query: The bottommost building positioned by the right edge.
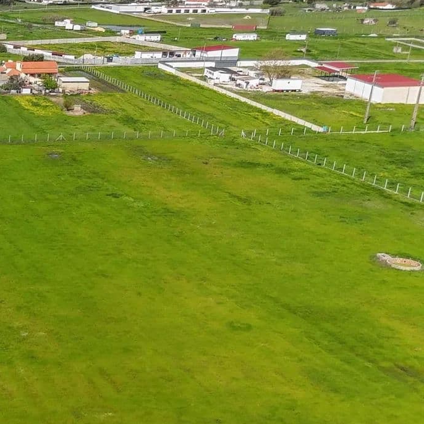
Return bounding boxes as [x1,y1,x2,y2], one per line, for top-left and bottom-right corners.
[346,68,424,103]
